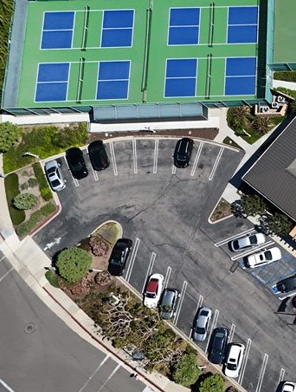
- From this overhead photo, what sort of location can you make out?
sports ground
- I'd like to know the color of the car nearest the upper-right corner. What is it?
black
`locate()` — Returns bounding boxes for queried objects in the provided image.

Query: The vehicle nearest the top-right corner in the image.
[174,137,195,170]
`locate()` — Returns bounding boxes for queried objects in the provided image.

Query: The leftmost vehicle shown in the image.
[47,159,68,193]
